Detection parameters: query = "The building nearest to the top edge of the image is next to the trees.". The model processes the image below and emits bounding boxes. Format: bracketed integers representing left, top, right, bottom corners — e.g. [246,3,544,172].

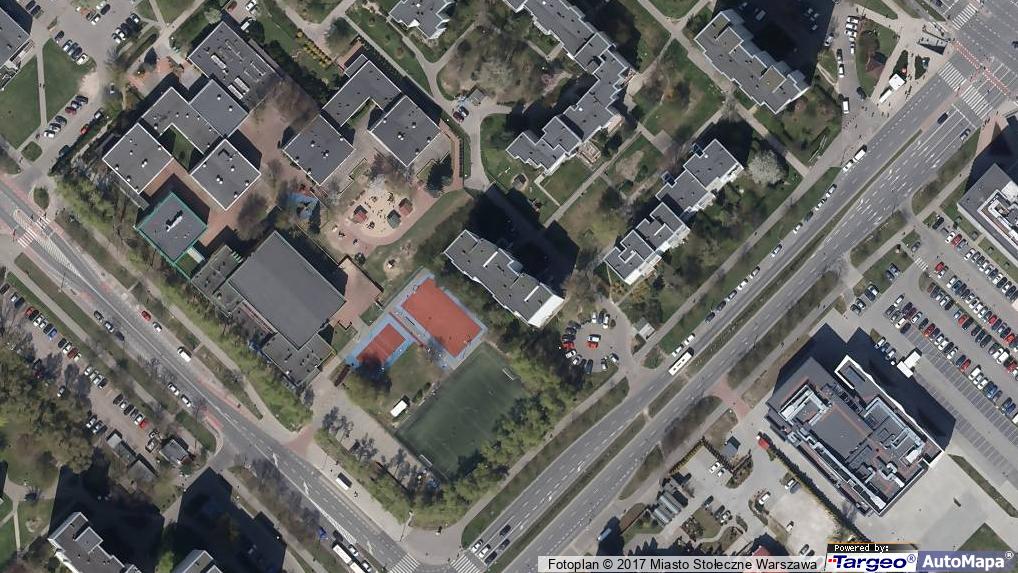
[390,0,451,44]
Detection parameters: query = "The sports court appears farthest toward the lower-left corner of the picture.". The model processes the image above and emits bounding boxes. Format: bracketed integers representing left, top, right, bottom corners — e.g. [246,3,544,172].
[345,313,415,378]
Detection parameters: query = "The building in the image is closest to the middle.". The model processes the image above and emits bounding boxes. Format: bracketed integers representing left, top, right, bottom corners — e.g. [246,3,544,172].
[444,230,560,327]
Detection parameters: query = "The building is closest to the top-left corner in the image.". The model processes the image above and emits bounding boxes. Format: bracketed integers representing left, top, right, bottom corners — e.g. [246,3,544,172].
[0,5,35,90]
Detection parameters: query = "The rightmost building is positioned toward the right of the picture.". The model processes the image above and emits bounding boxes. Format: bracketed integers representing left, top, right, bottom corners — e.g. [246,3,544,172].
[954,164,1018,268]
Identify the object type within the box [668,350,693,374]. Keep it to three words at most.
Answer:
bus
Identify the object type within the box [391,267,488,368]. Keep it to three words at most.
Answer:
sports court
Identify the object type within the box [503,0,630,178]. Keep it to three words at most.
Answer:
building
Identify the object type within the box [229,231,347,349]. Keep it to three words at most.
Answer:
building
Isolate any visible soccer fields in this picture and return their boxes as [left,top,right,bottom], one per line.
[396,342,534,482]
